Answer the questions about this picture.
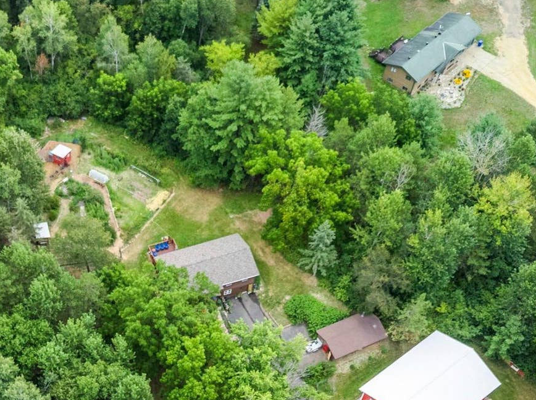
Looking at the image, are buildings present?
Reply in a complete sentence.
Yes, a building can be made out from above.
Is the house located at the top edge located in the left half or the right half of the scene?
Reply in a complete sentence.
You can find the house located at the top edge on the right side of the picture.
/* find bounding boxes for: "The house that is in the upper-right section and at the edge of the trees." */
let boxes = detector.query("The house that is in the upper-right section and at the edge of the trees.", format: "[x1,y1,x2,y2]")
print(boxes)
[369,13,483,87]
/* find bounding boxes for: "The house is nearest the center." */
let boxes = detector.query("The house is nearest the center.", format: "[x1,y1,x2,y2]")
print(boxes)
[147,233,262,311]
